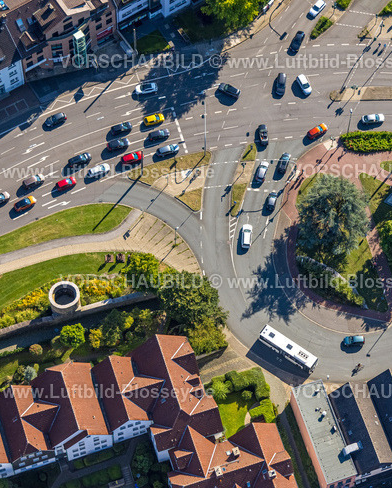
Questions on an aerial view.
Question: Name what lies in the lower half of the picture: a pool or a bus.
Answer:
bus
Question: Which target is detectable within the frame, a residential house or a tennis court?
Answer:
residential house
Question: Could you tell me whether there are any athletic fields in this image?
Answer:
No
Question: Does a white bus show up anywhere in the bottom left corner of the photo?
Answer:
No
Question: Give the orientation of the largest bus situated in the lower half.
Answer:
on a diagonal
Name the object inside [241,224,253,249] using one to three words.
vehicle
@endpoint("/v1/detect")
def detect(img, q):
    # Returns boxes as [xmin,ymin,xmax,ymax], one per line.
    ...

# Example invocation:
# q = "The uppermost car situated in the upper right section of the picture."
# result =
[309,0,326,17]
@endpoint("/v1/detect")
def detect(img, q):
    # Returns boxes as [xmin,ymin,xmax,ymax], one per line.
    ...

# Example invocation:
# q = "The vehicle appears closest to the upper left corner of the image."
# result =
[44,113,67,129]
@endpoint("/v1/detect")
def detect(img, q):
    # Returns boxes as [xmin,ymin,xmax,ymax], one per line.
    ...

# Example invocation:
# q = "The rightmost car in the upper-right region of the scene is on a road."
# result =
[361,112,384,124]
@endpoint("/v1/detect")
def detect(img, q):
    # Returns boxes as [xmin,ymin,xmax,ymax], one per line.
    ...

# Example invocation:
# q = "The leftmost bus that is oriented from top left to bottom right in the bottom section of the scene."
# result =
[258,324,319,375]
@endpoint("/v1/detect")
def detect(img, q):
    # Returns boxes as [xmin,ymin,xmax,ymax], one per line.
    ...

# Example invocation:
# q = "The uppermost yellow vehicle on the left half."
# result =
[143,113,165,126]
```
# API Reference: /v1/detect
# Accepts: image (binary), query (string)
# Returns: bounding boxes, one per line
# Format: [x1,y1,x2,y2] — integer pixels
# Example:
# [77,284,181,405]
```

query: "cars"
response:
[85,163,111,179]
[67,152,92,168]
[13,196,36,212]
[0,190,11,204]
[216,83,242,100]
[44,113,67,129]
[306,124,327,139]
[290,30,304,53]
[147,128,171,142]
[257,126,268,147]
[156,142,180,156]
[296,75,311,95]
[135,82,158,96]
[275,73,286,96]
[266,192,278,213]
[53,176,77,193]
[309,0,326,17]
[110,122,133,136]
[143,113,165,126]
[106,137,130,151]
[361,112,384,124]
[255,162,269,184]
[120,150,144,164]
[241,224,253,249]
[343,335,365,347]
[23,174,45,189]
